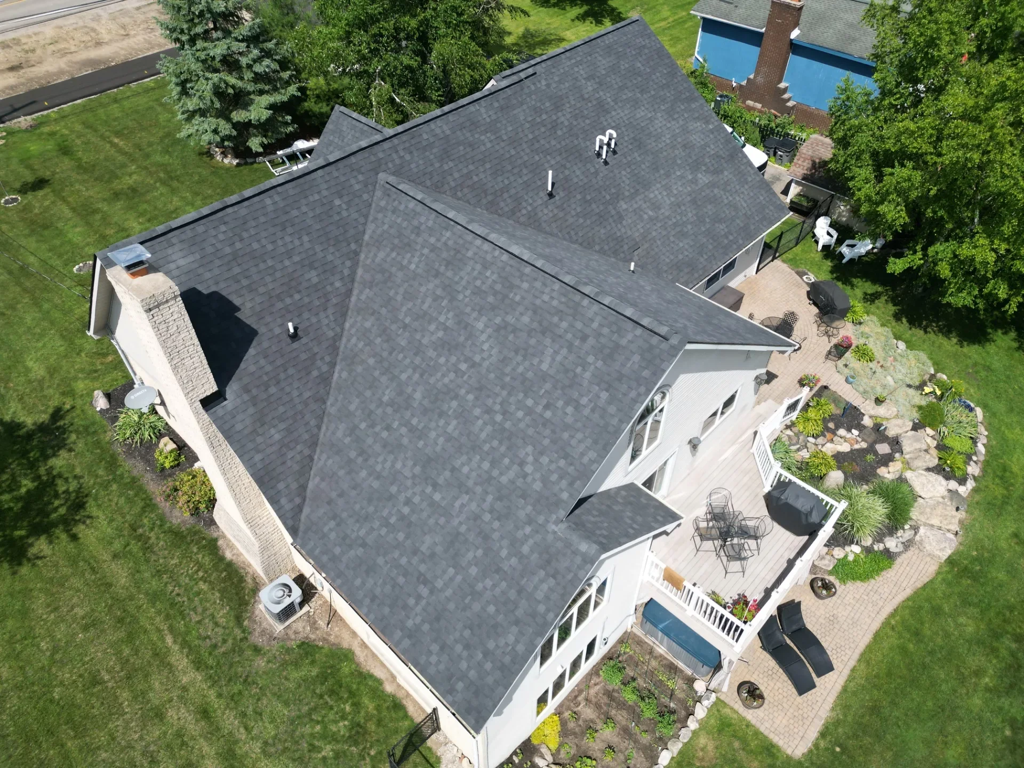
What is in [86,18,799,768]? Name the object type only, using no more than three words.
house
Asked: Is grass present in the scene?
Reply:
Yes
